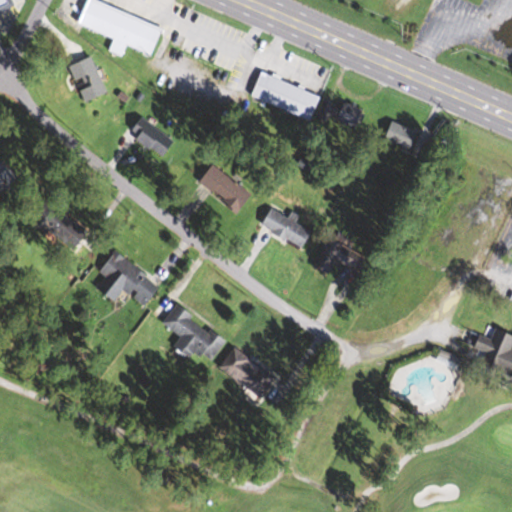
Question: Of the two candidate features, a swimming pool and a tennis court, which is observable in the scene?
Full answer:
Of the two, only a swimming pool appears.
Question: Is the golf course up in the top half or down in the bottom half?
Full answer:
Seen from above, the golf course lies in the bottom half of the view.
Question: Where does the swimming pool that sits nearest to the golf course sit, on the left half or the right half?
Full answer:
You can find the swimming pool that sits nearest to the golf course on the right side of the picture.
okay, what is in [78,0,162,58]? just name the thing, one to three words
building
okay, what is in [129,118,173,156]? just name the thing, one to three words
house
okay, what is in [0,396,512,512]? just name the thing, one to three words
golf course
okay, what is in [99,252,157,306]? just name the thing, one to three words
house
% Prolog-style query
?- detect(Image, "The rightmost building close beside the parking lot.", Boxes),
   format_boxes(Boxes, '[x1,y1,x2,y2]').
[252,70,317,120]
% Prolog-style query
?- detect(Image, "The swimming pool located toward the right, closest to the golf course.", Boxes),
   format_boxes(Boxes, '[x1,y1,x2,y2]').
[390,356,456,414]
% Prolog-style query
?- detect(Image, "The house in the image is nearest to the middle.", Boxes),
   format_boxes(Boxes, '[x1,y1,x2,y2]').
[262,208,310,248]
